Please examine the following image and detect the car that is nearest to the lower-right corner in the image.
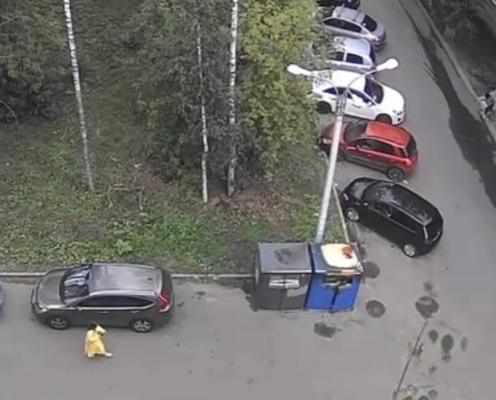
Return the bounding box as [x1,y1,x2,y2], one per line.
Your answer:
[345,184,456,259]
